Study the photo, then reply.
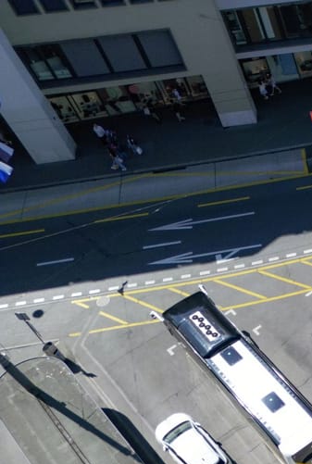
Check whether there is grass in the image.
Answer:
No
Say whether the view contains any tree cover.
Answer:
No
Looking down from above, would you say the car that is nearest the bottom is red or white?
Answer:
white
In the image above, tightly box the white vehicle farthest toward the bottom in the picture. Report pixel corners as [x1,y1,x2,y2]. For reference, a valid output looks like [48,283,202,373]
[159,413,229,464]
